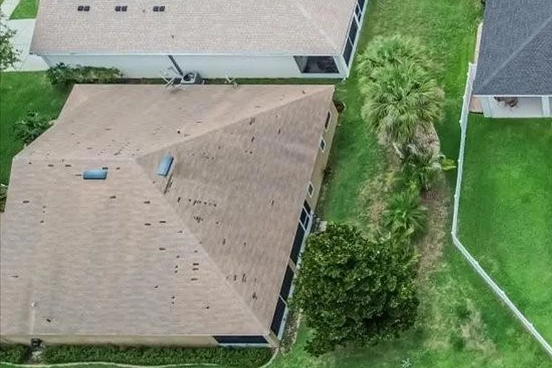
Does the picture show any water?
No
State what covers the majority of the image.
buildings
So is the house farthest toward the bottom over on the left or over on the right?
left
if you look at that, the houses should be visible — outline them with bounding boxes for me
[466,0,552,119]
[28,0,367,79]
[0,85,333,346]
